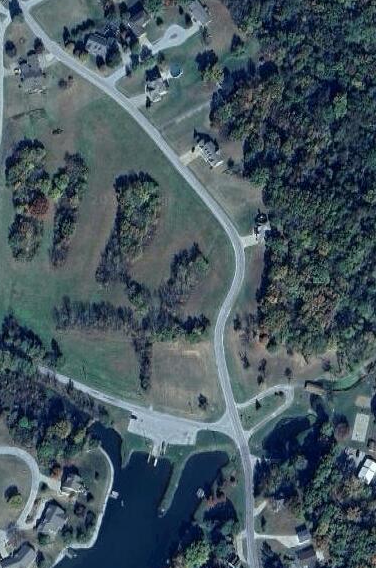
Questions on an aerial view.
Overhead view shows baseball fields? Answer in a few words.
No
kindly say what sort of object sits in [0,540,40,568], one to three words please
house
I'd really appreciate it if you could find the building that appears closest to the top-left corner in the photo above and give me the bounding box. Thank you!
[21,61,45,92]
